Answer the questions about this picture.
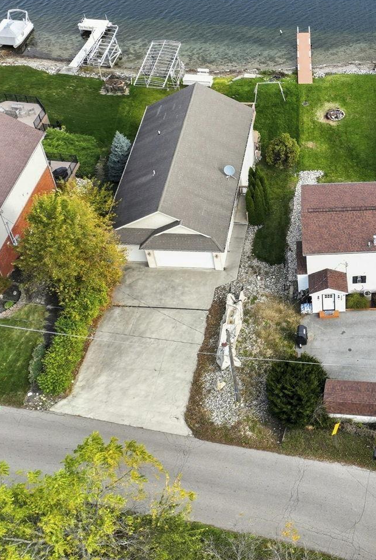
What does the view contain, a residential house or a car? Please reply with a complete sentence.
Looking from above, you can make out a residential house.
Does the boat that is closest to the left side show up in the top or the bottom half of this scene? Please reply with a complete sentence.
You can find the boat that is closest to the left side in the top half.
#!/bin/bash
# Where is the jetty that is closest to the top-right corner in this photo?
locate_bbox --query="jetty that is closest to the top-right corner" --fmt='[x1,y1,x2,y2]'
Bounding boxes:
[296,24,313,85]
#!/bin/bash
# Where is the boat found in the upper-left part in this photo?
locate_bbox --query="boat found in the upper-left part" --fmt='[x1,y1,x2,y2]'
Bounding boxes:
[0,9,33,50]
